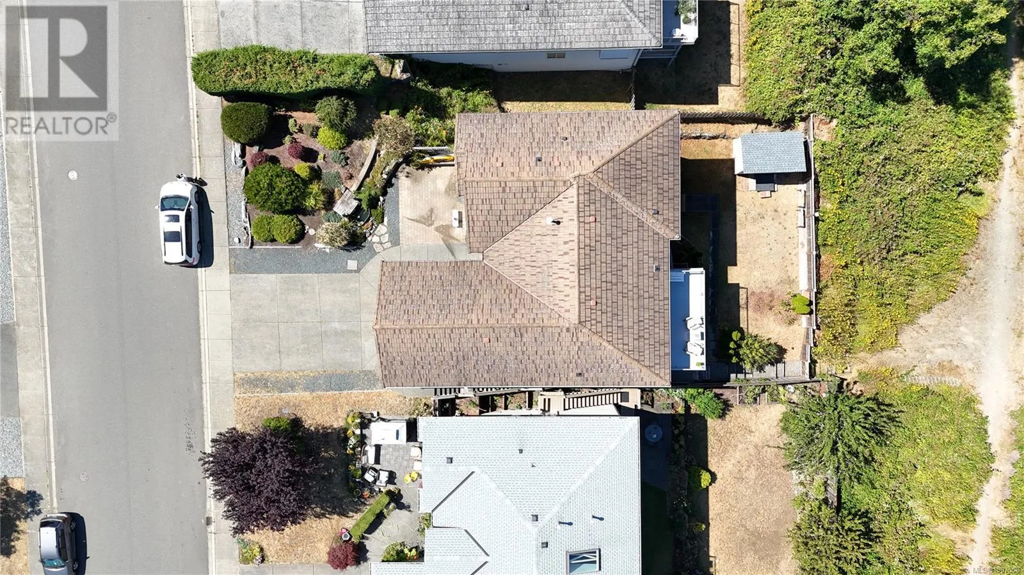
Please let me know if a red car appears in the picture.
No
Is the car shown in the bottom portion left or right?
left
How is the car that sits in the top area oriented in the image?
vertically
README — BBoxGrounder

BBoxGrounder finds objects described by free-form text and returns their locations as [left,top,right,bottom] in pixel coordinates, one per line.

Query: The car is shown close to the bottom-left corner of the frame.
[38,511,81,575]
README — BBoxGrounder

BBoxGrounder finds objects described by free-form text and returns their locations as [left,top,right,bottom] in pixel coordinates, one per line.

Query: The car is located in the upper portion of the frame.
[158,184,202,267]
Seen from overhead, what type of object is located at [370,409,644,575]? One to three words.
house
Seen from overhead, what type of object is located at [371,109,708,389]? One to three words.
house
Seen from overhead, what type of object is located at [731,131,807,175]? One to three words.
shed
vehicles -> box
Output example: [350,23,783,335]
[158,184,202,267]
[38,511,81,575]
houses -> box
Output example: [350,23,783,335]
[371,109,708,389]
[370,409,644,575]
[362,0,700,75]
